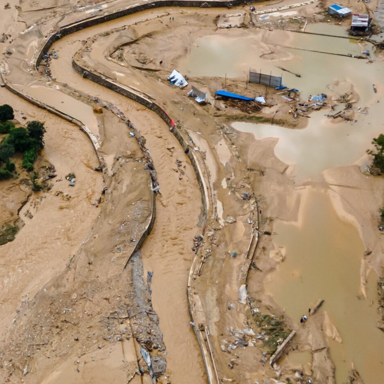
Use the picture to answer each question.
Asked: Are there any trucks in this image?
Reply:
No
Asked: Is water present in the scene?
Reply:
Yes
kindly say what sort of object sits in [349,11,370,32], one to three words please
shed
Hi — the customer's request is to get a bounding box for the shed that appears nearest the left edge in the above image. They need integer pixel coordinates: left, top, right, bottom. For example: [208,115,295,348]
[327,3,350,21]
